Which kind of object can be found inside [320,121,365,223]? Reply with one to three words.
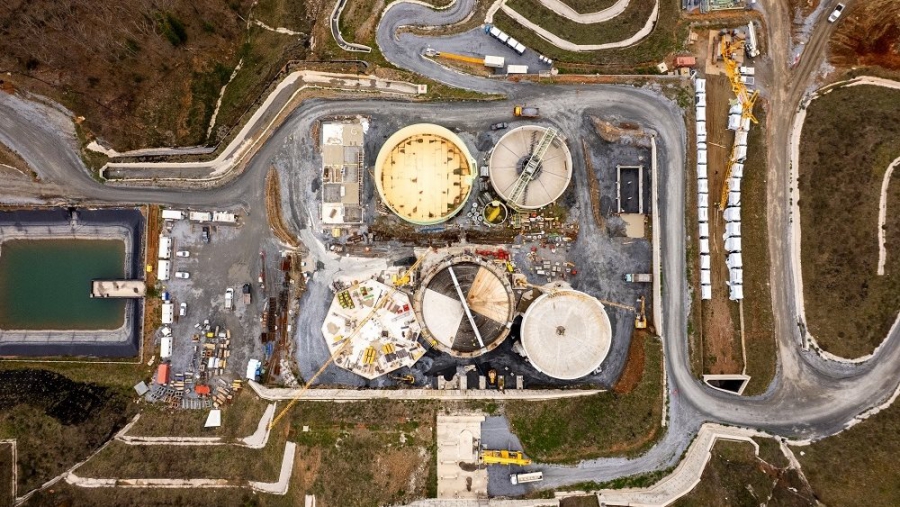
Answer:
building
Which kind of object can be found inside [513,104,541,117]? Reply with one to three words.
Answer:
vehicle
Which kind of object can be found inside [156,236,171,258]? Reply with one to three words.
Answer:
building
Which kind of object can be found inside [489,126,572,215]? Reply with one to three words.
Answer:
storage tank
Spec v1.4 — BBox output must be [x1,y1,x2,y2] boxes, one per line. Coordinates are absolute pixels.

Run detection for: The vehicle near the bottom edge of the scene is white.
[512,474,543,487]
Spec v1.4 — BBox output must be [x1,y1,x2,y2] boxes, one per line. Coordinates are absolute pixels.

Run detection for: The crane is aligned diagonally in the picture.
[271,245,434,426]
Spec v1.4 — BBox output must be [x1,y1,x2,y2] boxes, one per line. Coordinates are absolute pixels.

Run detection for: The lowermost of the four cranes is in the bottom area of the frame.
[482,447,533,467]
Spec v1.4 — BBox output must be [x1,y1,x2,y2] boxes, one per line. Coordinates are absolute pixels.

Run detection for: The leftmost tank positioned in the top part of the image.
[374,123,482,226]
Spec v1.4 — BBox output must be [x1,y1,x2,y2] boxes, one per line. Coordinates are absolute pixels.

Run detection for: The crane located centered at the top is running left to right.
[423,43,486,62]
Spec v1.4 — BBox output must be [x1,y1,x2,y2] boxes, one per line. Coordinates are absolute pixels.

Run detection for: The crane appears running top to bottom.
[708,28,759,212]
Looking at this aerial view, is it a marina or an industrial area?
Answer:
industrial area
